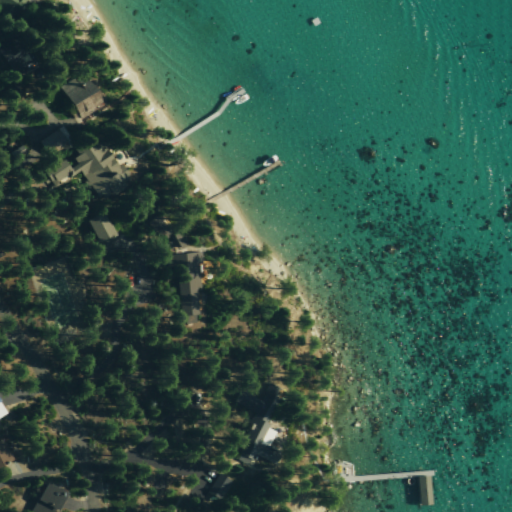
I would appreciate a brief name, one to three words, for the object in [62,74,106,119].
house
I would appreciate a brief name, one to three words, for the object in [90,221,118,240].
house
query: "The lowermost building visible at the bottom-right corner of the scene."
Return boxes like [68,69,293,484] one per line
[418,476,434,506]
